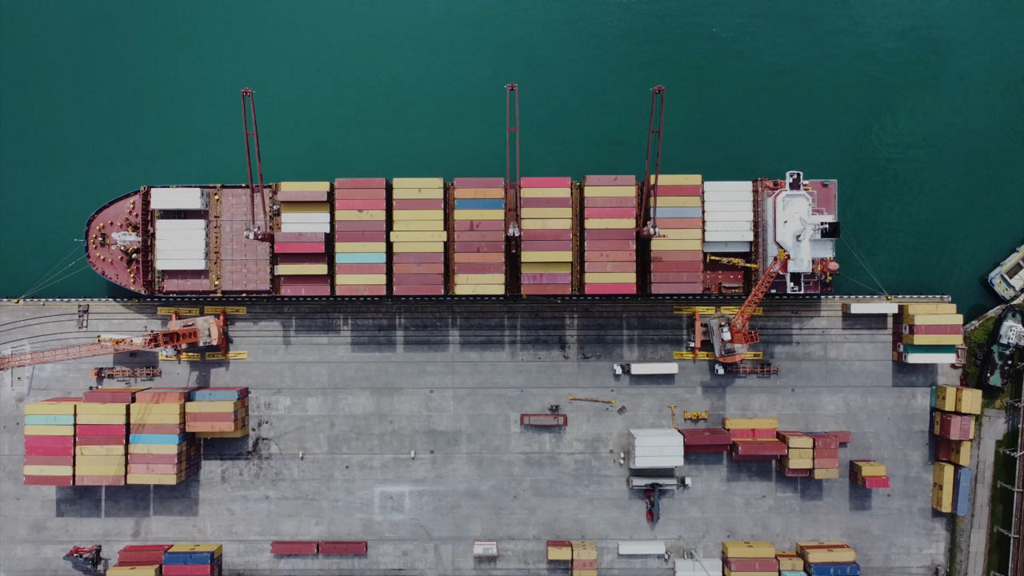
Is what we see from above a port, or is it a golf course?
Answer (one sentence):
This image shows a port.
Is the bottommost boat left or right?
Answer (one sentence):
You can find the bottommost boat on the right side of the picture.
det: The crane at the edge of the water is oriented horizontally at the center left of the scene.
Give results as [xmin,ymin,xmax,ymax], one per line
[0,307,249,369]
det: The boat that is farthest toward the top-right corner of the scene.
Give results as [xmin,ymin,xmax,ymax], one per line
[988,243,1024,299]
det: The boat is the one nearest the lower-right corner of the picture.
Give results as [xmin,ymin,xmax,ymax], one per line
[981,305,1024,389]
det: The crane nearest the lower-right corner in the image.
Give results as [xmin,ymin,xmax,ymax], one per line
[672,250,788,364]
